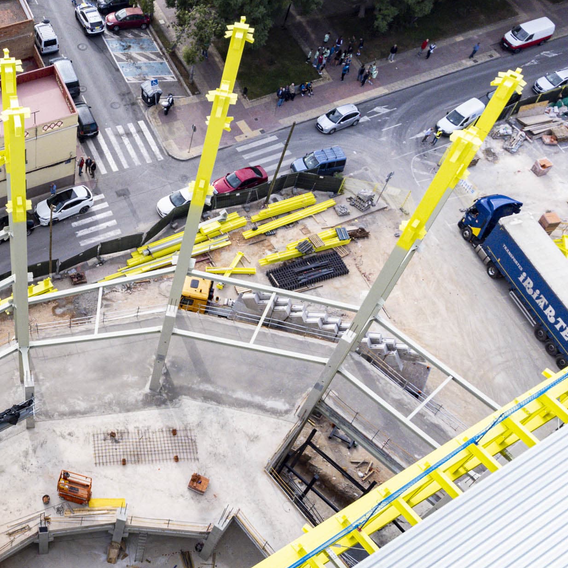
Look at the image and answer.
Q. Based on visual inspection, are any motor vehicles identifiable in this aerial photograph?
Yes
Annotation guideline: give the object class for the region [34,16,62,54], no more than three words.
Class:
car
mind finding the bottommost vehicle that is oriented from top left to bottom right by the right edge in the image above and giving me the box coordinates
[448,195,568,377]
